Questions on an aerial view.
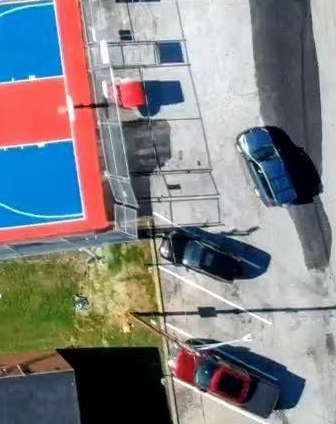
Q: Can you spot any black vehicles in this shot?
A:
Yes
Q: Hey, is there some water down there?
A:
No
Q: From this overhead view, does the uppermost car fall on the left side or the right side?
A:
right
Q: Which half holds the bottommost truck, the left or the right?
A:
right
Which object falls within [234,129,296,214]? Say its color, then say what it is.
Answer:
blue car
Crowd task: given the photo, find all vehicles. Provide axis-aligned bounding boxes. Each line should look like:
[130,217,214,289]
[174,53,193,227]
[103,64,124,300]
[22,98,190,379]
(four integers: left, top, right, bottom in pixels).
[160,235,248,288]
[171,349,279,413]
[234,129,296,214]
